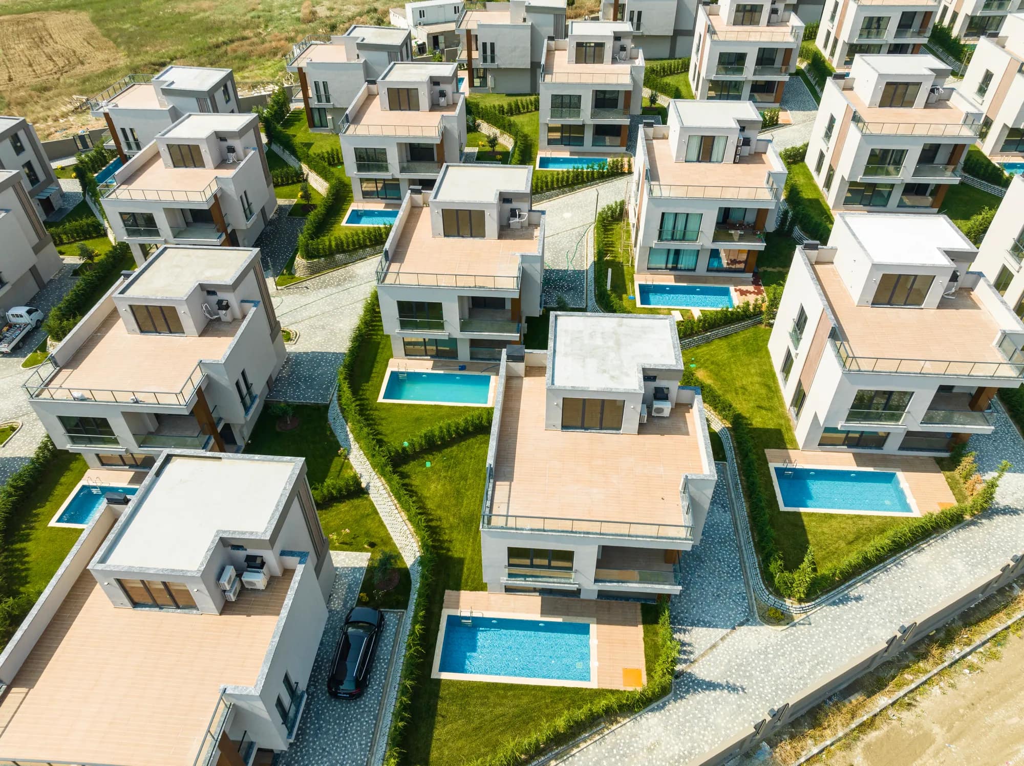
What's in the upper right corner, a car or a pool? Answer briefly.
pool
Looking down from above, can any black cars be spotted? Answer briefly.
Yes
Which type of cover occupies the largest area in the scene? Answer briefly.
buildings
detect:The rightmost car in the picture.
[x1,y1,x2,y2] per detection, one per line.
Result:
[328,610,383,700]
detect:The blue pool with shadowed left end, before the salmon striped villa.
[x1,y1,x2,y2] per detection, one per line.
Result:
[762,448,966,517]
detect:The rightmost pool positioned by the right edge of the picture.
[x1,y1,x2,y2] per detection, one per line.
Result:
[995,153,1024,175]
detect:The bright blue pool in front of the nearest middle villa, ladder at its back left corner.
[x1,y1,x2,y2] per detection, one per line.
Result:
[431,591,646,692]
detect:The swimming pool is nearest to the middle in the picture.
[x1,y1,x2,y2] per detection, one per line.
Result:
[377,358,501,407]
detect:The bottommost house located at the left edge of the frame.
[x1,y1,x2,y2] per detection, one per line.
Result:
[0,449,337,766]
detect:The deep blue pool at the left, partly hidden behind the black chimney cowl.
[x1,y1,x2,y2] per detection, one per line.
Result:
[49,468,149,528]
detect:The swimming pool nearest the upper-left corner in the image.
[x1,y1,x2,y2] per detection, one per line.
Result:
[92,155,121,187]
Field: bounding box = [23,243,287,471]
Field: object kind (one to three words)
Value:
house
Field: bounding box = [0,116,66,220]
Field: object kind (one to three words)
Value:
house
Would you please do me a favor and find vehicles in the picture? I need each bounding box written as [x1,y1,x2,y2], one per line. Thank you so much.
[0,312,46,360]
[328,610,383,700]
